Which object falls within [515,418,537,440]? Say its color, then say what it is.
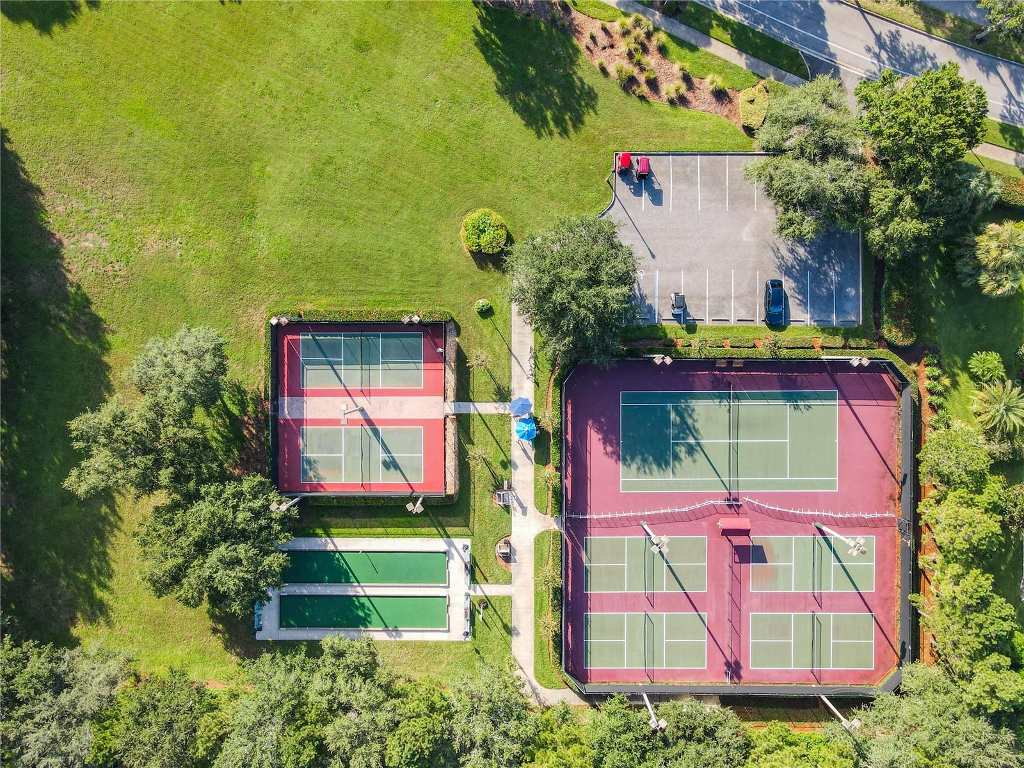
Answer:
blue umbrella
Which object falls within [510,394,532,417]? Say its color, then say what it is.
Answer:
blue umbrella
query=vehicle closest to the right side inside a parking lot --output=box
[765,280,787,325]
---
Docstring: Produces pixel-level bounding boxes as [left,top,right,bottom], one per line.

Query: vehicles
[616,155,630,179]
[635,158,649,182]
[670,293,685,315]
[765,280,787,325]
